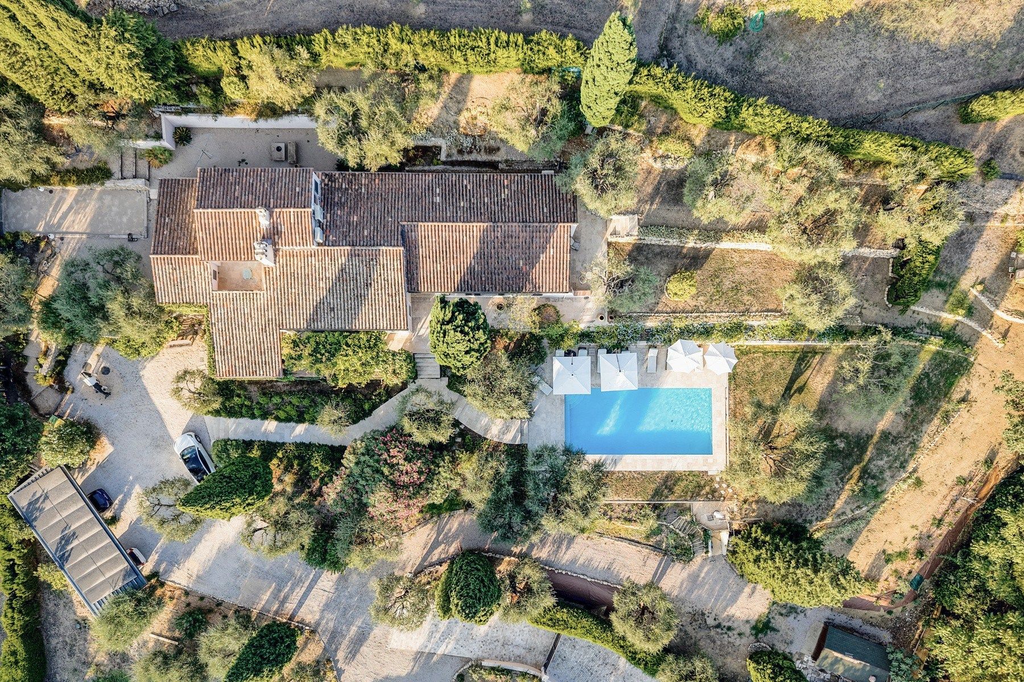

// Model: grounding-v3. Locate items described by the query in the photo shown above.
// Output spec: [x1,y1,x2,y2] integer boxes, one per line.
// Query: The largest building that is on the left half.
[147,167,578,382]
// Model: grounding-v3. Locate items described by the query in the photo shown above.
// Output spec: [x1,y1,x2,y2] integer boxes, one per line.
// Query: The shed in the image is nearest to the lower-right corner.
[805,619,893,682]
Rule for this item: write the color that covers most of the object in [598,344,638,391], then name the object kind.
white umbrella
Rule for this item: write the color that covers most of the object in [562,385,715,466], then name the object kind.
blue swimming pool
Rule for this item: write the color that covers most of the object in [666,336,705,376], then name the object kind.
white umbrella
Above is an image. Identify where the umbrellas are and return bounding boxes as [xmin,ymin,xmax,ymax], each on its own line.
[598,344,638,391]
[553,347,591,394]
[666,336,705,376]
[704,340,738,374]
